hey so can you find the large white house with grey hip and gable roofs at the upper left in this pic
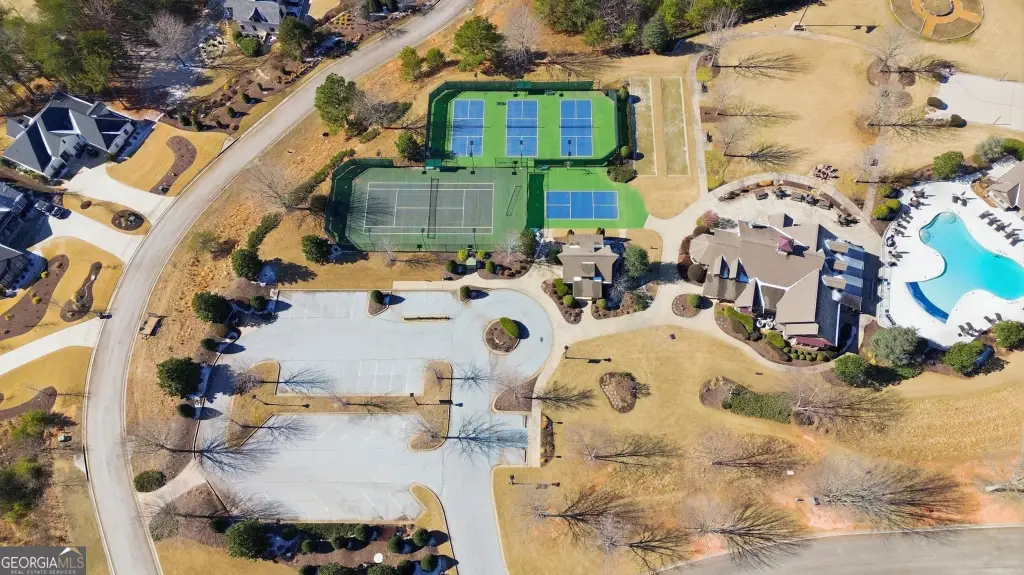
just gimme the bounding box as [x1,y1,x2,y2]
[0,92,144,193]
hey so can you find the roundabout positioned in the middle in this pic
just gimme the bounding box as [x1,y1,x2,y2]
[481,316,523,355]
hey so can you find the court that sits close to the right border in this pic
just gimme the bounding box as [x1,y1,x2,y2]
[925,72,1024,131]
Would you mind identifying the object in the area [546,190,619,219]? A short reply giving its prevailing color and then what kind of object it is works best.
blue sports court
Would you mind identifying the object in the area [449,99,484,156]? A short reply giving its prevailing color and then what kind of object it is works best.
blue sports court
